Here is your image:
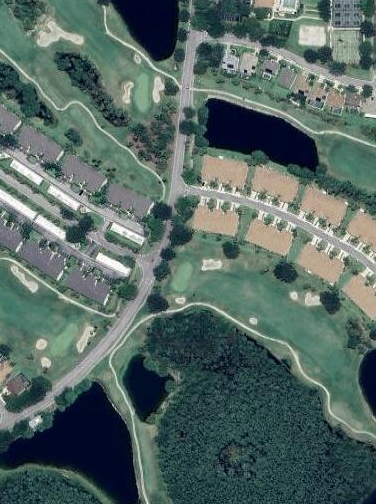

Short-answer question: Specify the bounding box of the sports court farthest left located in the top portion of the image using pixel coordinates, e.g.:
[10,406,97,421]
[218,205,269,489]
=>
[299,25,325,46]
